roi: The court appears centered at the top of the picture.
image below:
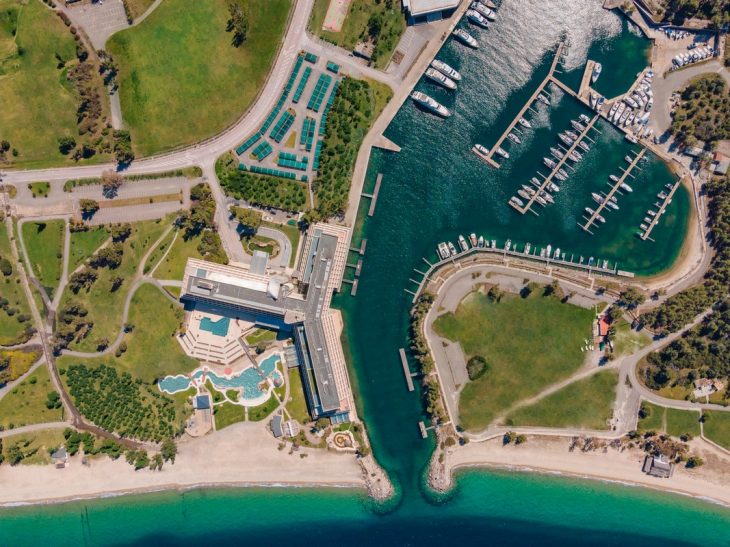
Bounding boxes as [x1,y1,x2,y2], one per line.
[323,0,350,34]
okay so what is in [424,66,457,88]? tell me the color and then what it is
white boat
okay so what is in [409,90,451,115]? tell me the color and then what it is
white boat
